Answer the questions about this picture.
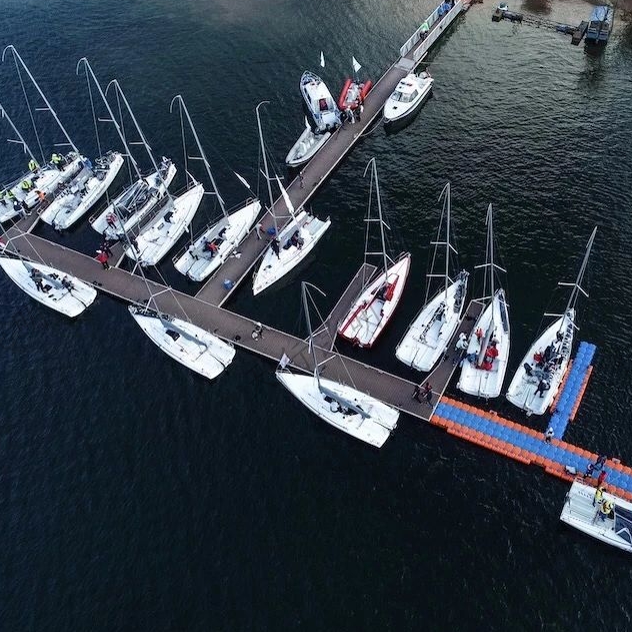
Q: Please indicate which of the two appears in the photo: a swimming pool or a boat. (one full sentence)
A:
The image shows a boat.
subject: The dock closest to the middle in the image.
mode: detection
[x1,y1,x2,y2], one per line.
[304,262,379,350]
